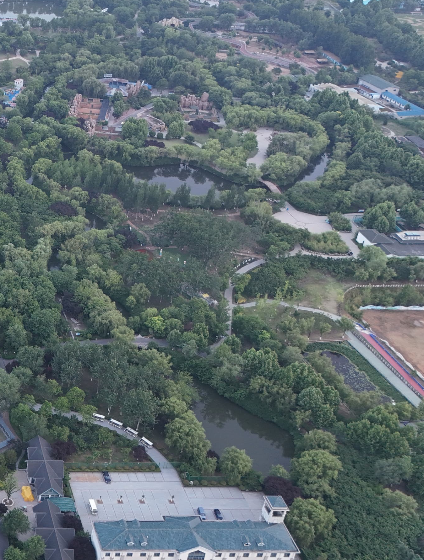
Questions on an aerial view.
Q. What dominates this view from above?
trees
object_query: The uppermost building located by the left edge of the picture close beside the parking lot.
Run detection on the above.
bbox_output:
[7,422,64,498]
